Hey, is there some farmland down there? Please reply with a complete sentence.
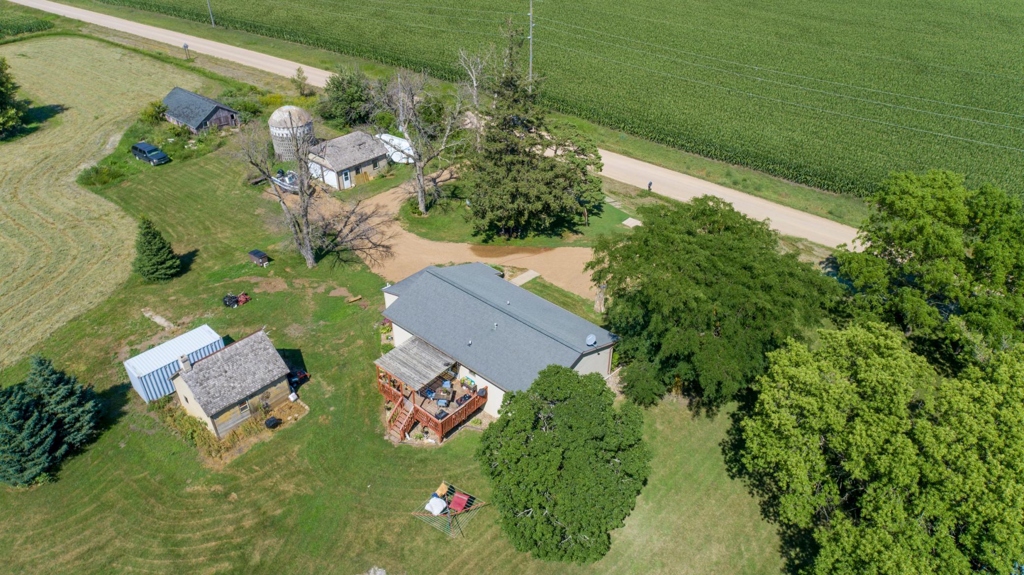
Yes, there is farmland in the image.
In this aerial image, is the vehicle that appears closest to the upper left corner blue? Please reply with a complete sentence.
Yes, blue is the color of the vehicle that appears closest to the upper left corner.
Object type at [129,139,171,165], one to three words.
vehicle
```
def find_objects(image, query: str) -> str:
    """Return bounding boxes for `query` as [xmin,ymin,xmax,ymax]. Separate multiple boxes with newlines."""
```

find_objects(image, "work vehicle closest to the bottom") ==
[288,370,307,386]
